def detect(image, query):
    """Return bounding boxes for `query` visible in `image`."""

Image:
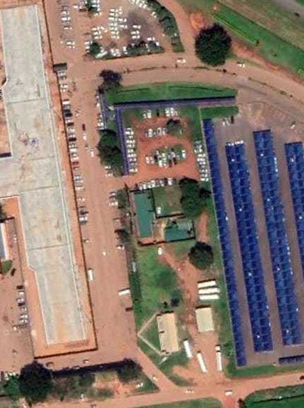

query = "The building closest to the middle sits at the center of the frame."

[134,190,156,239]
